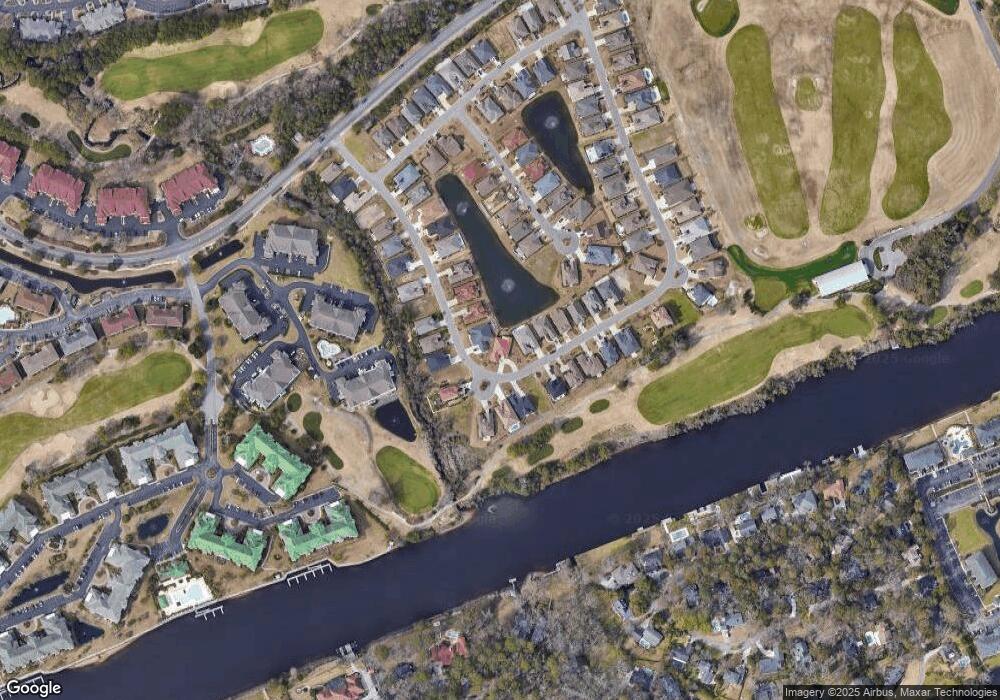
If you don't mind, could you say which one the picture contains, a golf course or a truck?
golf course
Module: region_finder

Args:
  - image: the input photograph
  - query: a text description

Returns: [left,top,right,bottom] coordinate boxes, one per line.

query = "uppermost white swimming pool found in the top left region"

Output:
[252,138,275,155]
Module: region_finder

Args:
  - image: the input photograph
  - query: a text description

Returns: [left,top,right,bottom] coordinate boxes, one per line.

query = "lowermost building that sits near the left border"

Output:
[0,618,73,673]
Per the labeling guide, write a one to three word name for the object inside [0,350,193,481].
golf course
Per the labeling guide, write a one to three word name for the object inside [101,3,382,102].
golf course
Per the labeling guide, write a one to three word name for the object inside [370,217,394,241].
house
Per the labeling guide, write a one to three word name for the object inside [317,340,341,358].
swimming pool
